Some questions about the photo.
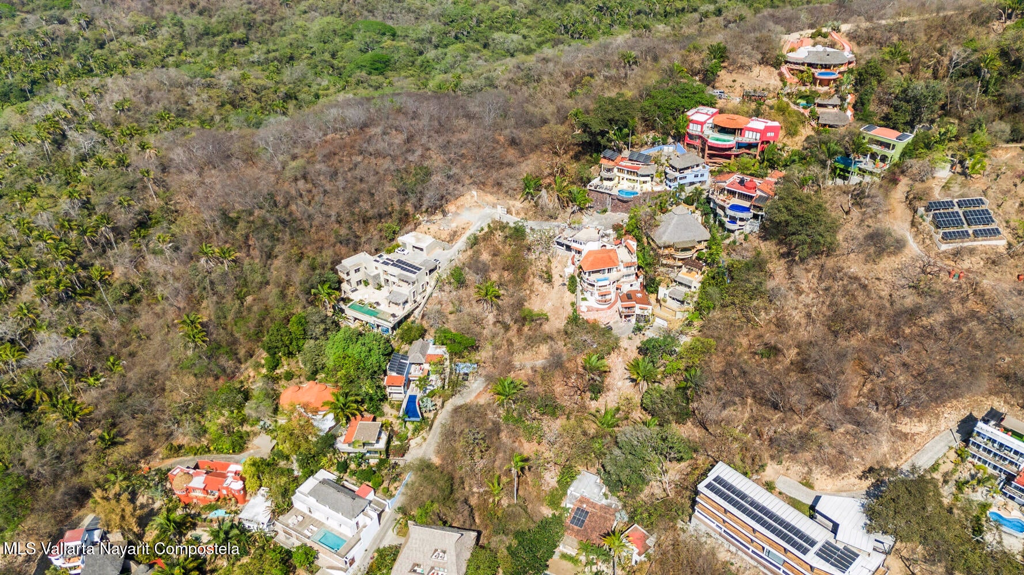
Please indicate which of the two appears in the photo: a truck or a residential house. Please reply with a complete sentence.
This aerial view contains a residential house.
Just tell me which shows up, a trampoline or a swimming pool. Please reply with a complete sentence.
Looking from above, you can make out a swimming pool.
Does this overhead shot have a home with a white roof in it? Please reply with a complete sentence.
Yes, the frame does contain a home with a white roof.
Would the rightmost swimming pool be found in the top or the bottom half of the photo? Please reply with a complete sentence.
The rightmost swimming pool sits in the bottom half of the picture.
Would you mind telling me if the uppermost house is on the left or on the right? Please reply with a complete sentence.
The uppermost house sits on the right side.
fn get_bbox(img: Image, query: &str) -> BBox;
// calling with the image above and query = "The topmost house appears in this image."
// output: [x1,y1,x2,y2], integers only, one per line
[784,37,857,87]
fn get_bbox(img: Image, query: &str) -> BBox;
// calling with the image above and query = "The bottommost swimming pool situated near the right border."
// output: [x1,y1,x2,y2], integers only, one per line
[987,505,1024,539]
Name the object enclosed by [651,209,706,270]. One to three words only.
house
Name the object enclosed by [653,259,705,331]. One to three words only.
house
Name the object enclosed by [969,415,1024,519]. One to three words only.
building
